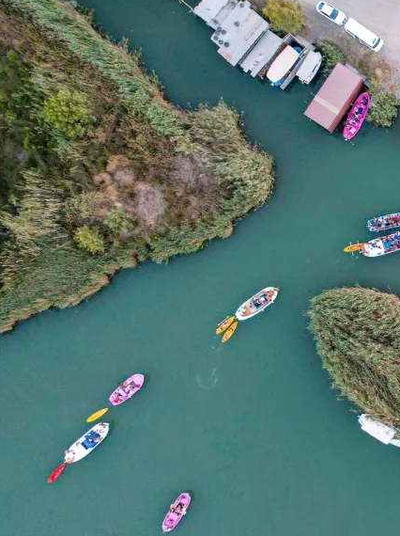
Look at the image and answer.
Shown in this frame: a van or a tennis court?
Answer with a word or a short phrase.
van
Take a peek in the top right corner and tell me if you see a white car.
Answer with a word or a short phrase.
Yes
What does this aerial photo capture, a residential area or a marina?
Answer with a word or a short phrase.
marina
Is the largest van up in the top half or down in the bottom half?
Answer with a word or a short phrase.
top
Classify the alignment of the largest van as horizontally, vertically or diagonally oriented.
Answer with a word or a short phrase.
diagonally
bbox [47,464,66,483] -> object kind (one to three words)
boat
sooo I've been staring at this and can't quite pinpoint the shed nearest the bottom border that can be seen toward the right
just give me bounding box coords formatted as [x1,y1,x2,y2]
[305,63,365,135]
